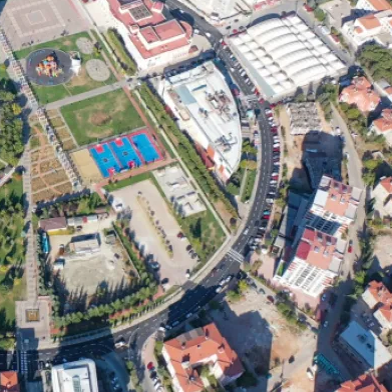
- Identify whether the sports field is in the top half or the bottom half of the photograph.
top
